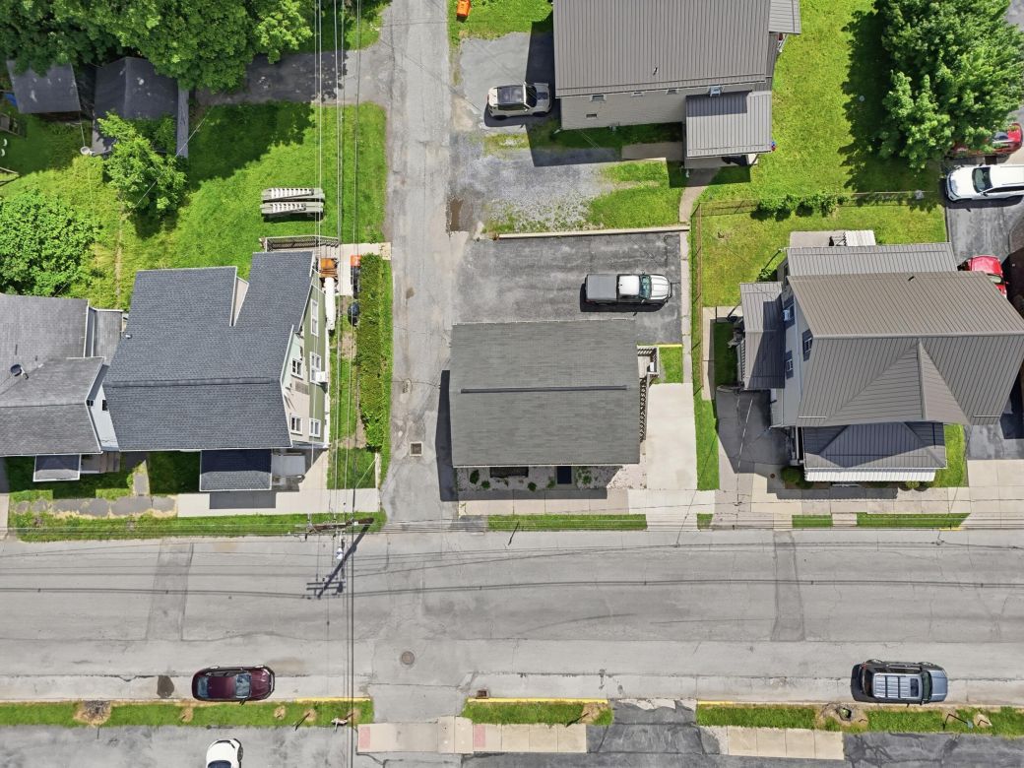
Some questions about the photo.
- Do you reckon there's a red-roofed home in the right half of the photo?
No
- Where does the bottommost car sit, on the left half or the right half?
left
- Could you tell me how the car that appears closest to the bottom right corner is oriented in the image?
from left to right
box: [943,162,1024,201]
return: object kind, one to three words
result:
car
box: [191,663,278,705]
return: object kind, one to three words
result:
car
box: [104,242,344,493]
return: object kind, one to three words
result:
building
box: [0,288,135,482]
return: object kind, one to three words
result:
house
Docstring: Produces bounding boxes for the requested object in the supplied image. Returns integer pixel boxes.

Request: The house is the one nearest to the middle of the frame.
[449,318,658,467]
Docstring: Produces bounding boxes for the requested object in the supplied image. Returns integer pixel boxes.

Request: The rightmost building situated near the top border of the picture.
[544,0,800,178]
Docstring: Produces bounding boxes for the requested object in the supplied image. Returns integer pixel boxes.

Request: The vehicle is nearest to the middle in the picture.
[585,270,675,307]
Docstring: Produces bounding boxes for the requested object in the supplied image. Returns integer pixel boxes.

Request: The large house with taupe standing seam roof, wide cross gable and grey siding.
[713,230,1024,488]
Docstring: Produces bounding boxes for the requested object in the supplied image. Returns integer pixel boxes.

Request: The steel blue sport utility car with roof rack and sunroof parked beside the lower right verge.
[852,661,945,706]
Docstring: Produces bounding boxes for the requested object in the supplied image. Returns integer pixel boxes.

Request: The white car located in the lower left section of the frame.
[203,736,245,768]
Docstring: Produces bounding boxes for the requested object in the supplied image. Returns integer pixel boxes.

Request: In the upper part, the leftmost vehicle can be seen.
[488,79,553,121]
